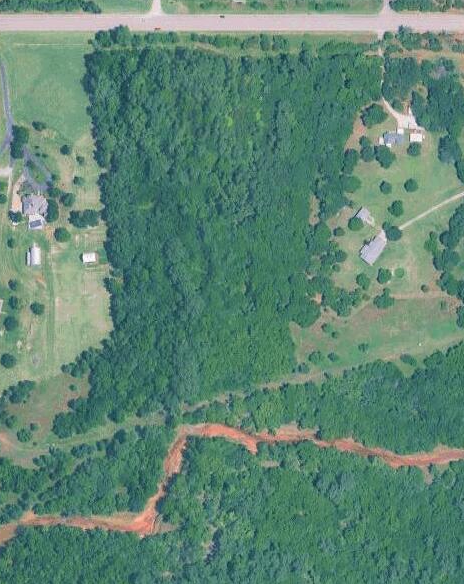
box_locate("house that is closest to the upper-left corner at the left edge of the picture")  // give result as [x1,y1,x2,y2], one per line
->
[22,193,52,229]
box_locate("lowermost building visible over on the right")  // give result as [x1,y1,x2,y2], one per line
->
[359,233,389,264]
